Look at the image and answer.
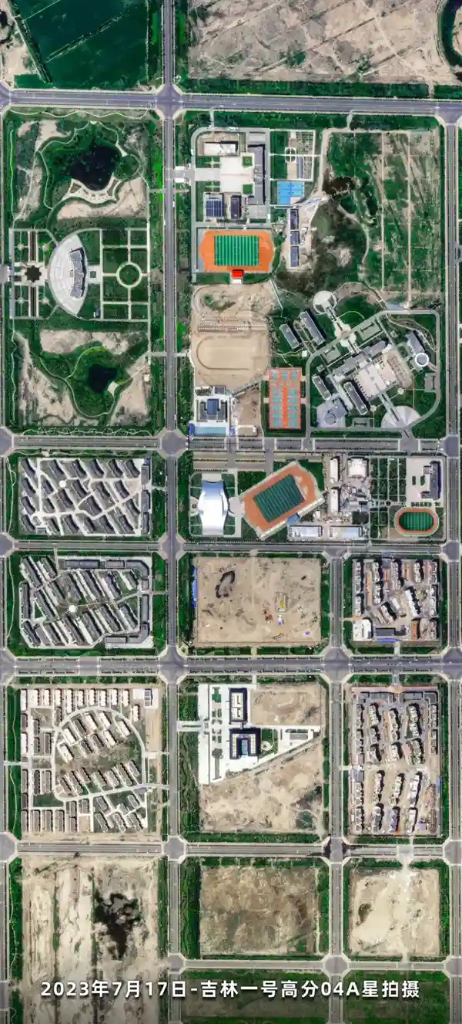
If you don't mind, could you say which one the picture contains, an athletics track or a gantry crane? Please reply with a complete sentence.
This aerial view contains an athletics track.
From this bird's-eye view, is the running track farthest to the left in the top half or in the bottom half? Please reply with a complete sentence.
The top half of the photo is where the running track farthest to the left is.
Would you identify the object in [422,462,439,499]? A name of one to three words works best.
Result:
building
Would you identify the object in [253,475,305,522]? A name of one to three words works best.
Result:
sports field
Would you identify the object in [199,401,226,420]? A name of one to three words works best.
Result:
building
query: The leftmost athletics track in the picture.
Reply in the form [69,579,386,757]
[197,229,277,272]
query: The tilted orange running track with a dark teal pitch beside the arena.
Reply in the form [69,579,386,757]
[241,462,323,539]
